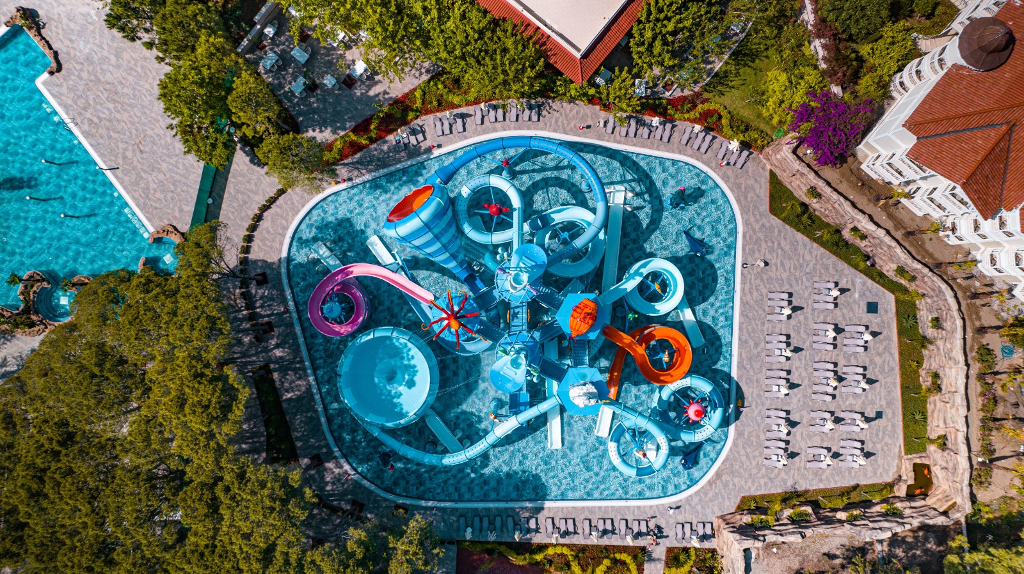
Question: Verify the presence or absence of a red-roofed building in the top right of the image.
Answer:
Yes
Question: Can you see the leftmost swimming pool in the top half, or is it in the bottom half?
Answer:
top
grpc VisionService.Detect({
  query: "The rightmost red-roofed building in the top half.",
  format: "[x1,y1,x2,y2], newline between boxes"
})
[860,0,1024,298]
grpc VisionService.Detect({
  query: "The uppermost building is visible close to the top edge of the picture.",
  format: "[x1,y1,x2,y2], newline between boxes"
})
[477,0,642,86]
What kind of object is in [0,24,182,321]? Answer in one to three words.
swimming pool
